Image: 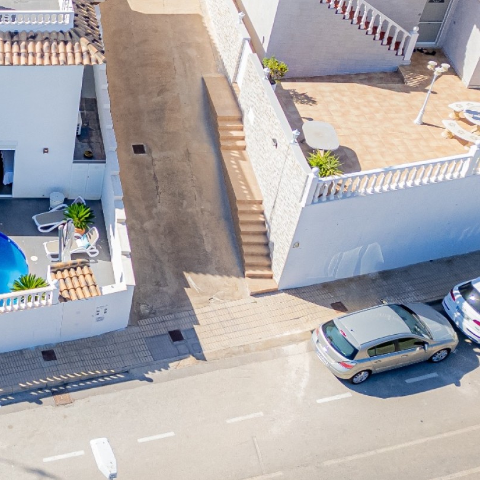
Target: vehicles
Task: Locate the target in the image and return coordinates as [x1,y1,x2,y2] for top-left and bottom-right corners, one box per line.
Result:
[303,292,464,384]
[438,270,480,338]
